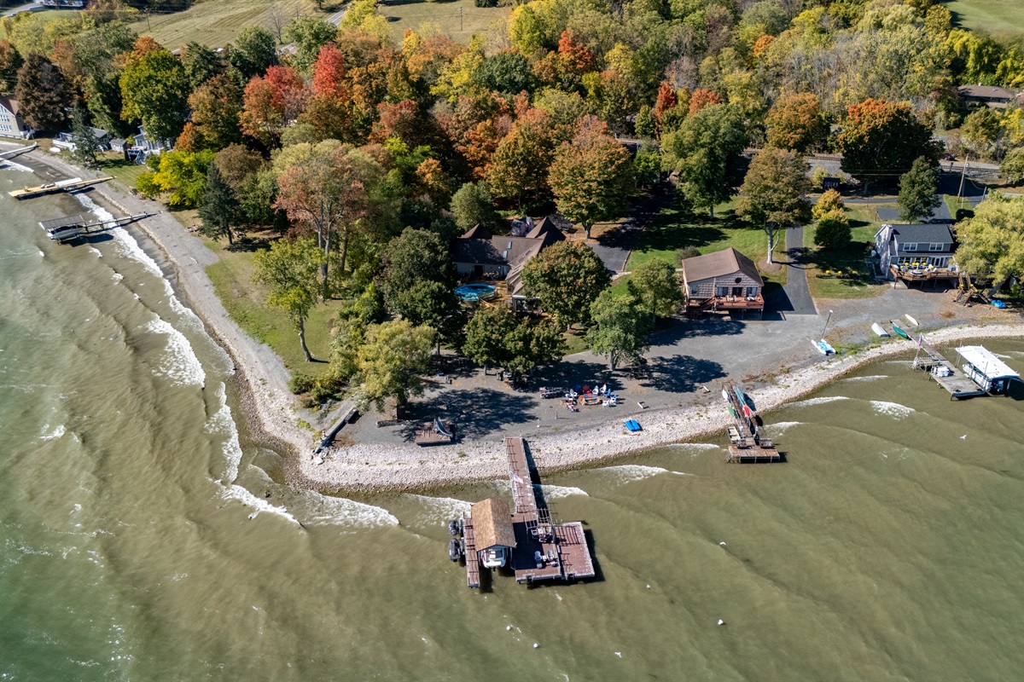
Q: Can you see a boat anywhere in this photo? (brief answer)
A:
Yes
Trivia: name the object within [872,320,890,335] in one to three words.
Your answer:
boat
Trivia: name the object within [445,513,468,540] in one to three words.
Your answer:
boat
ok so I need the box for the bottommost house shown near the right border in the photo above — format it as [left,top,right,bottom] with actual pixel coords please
[866,213,995,304]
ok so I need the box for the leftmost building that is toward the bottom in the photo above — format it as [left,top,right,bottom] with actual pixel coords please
[471,499,517,576]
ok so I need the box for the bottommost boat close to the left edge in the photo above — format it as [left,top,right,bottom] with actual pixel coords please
[45,224,86,237]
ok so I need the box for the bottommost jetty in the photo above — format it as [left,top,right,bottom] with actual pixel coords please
[463,431,595,594]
